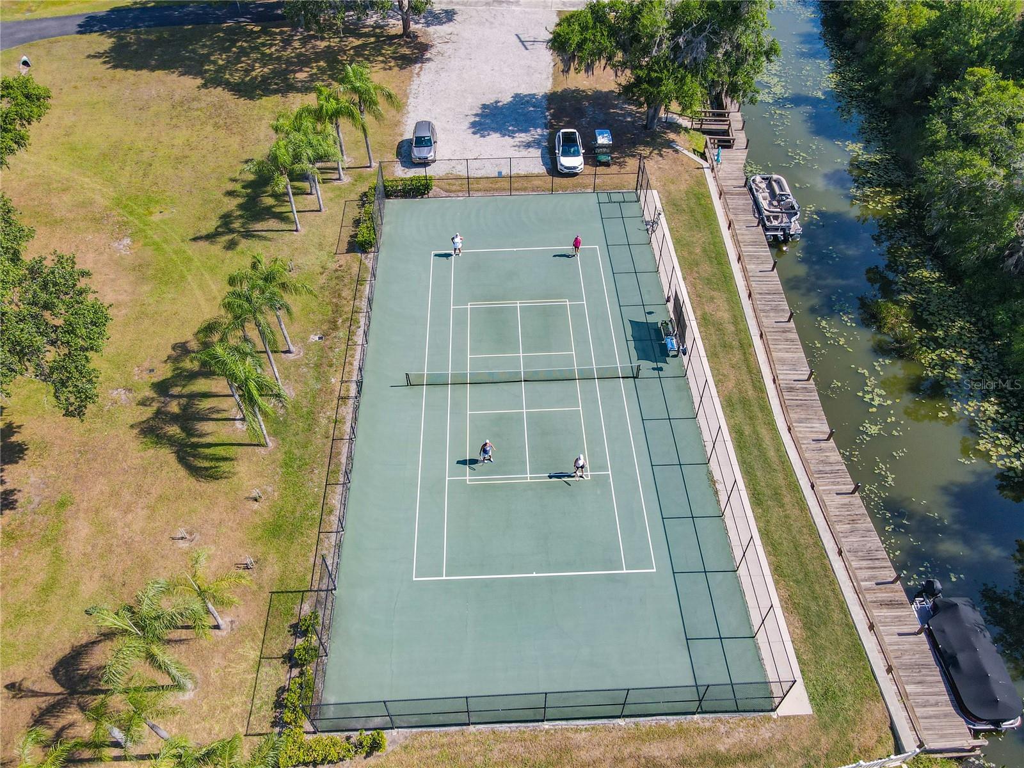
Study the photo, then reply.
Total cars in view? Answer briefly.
2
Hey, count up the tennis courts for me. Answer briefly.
1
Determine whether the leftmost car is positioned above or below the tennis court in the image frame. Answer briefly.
above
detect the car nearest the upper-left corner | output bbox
[407,117,436,161]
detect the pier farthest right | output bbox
[703,82,991,763]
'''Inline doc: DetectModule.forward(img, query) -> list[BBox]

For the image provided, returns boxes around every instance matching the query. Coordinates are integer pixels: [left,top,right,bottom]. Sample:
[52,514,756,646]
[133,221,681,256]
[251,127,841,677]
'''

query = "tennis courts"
[308,189,776,739]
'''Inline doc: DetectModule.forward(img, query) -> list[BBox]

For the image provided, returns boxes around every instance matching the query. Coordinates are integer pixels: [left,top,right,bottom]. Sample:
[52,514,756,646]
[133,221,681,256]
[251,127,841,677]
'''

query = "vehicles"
[407,117,436,161]
[554,125,586,173]
[592,127,614,162]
